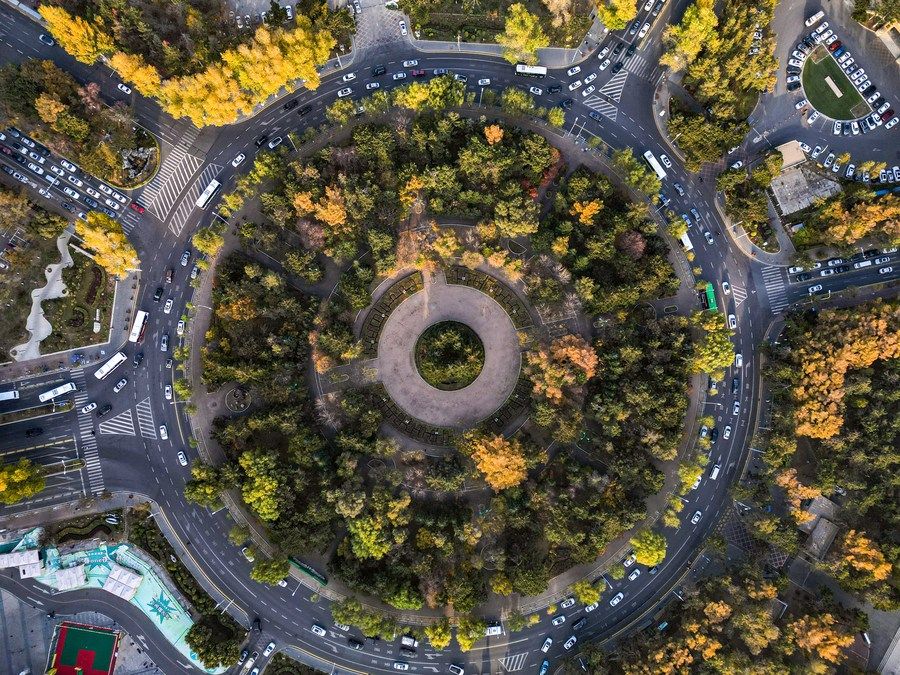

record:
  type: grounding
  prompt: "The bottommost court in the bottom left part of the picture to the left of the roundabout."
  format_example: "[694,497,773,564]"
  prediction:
[51,622,120,675]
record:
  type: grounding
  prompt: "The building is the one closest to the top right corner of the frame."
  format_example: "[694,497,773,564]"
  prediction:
[867,22,900,79]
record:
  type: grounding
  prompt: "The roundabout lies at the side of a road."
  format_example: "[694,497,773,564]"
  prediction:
[125,52,757,675]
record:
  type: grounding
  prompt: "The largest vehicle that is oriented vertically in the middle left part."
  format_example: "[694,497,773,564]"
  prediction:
[133,308,149,344]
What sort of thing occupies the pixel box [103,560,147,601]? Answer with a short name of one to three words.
tent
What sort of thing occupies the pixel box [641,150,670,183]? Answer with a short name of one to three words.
bus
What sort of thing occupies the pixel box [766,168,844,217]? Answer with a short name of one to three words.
building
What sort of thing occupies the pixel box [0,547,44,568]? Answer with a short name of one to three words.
tent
